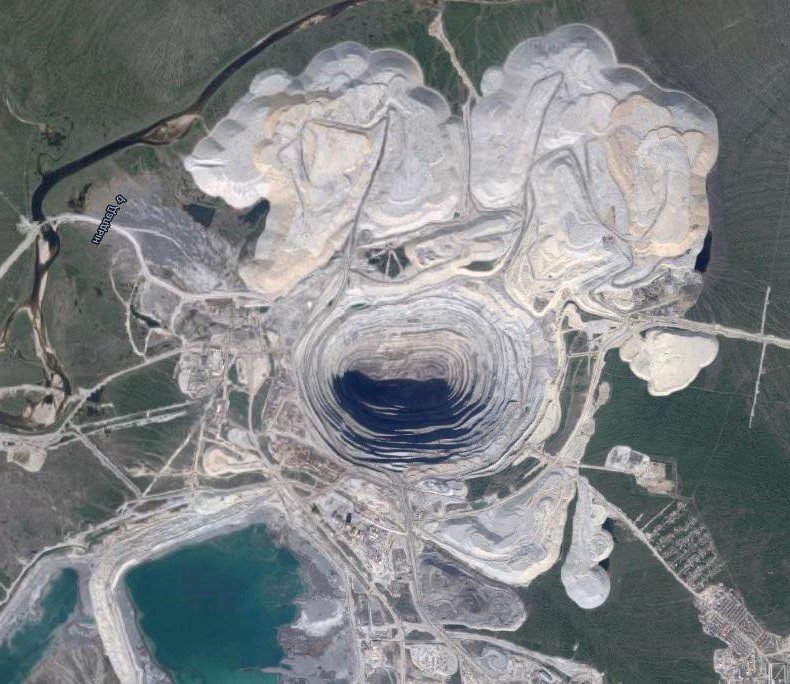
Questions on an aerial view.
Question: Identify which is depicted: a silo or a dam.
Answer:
dam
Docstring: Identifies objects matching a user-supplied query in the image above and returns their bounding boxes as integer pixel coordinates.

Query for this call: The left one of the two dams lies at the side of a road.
[0,552,87,628]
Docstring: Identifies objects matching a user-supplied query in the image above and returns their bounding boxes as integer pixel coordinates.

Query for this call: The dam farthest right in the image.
[89,485,272,684]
